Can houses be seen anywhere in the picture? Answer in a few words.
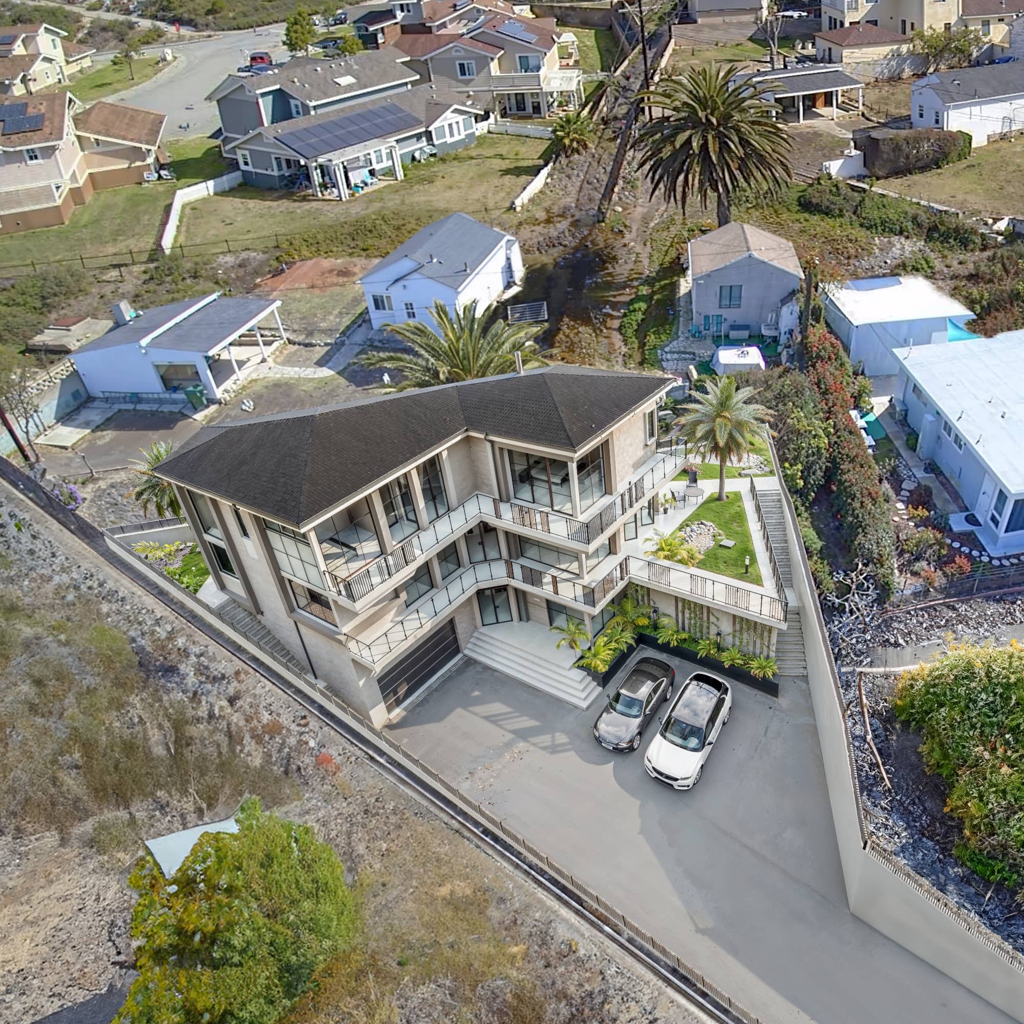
Yes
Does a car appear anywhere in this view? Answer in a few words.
Yes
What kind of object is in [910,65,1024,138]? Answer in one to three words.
house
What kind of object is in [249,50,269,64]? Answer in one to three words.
car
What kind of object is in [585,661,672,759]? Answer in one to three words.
car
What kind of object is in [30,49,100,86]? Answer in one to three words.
house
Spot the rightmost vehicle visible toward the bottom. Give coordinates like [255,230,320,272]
[635,674,728,798]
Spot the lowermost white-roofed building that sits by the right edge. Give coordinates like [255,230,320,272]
[893,329,1024,571]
